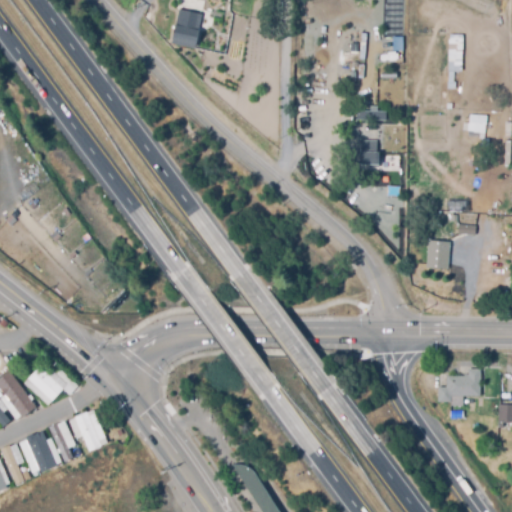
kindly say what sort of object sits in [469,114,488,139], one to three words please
barn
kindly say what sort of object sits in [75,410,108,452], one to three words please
house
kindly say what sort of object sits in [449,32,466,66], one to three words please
barn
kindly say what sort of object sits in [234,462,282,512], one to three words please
building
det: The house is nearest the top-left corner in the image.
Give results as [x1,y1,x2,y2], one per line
[173,8,204,48]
